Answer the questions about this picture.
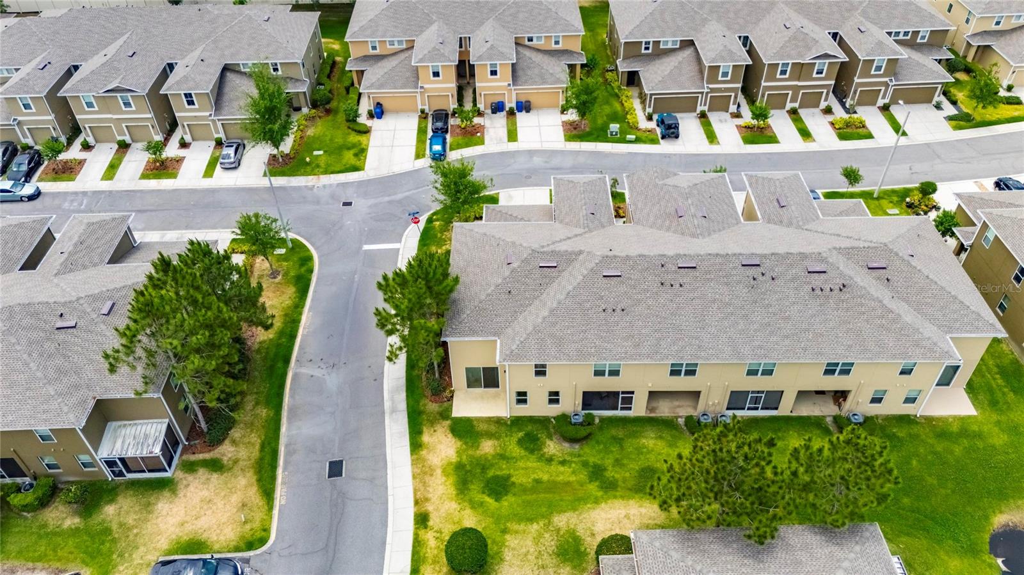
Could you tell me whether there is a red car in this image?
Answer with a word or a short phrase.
No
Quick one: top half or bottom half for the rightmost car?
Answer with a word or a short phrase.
top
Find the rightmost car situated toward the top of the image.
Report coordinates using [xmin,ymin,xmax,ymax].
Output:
[996,172,1024,193]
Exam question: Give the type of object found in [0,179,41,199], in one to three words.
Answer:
car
